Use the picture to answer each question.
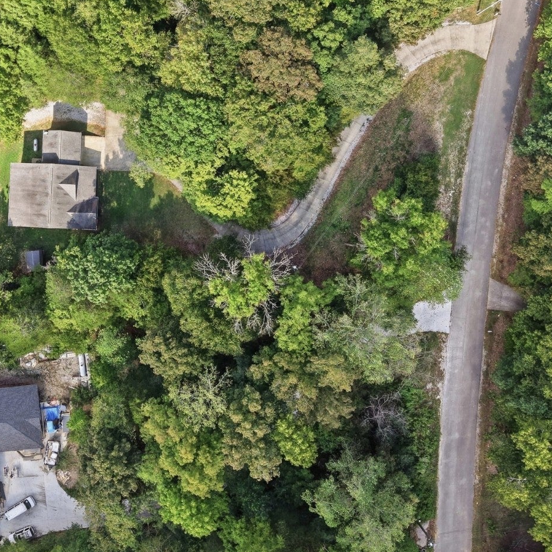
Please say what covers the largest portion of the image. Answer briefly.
trees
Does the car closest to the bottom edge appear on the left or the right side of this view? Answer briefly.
left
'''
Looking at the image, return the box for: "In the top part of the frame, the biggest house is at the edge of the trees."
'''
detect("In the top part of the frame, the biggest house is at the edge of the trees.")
[8,162,99,229]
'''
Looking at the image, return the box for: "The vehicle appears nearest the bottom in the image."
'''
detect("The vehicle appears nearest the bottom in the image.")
[8,525,38,545]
